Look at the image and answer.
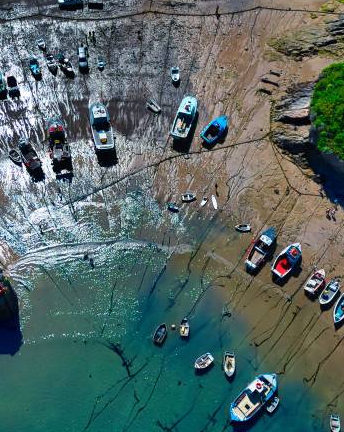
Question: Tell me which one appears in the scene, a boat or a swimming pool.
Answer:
boat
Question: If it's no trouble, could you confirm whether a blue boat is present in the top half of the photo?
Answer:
Yes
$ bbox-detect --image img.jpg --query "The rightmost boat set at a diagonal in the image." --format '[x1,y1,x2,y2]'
[317,277,340,305]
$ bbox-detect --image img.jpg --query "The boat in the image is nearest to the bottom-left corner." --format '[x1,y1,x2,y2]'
[151,323,167,345]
